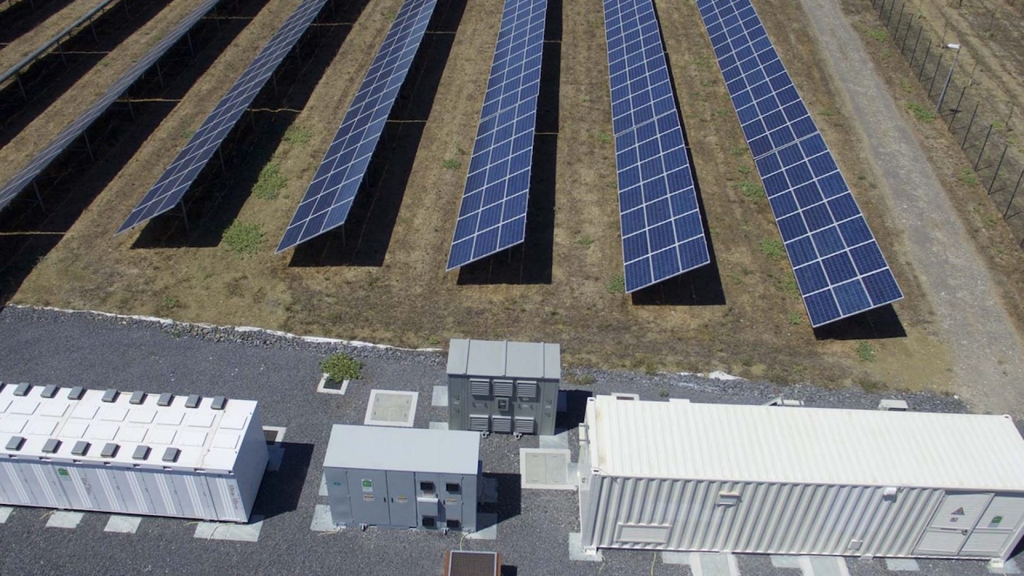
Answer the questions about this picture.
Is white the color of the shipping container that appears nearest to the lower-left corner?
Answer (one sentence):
Yes, the shipping container that appears nearest to the lower-left corner is white.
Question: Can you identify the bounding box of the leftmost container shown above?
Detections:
[0,384,270,523]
